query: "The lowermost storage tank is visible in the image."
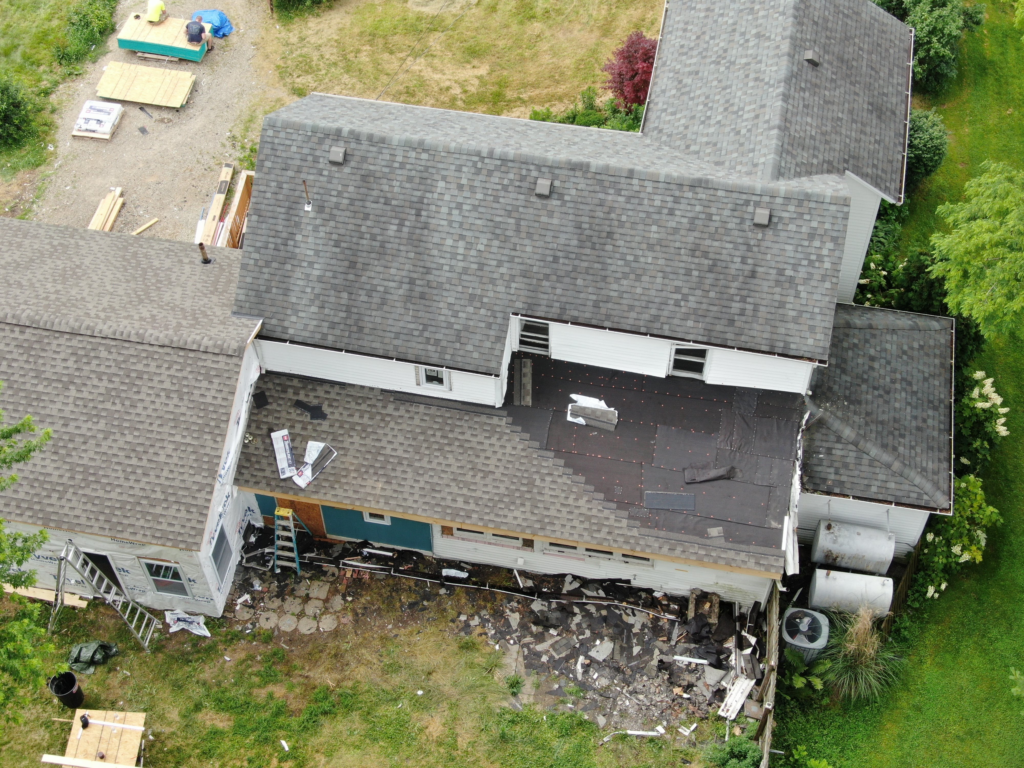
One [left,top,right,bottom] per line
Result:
[806,565,894,624]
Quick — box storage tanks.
[811,505,897,575]
[806,565,894,624]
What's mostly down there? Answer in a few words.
buildings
